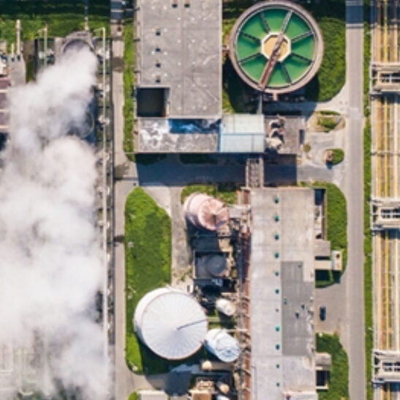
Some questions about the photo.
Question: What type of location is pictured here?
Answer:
industrial area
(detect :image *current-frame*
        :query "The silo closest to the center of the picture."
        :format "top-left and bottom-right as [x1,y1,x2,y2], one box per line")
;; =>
[179,195,231,235]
